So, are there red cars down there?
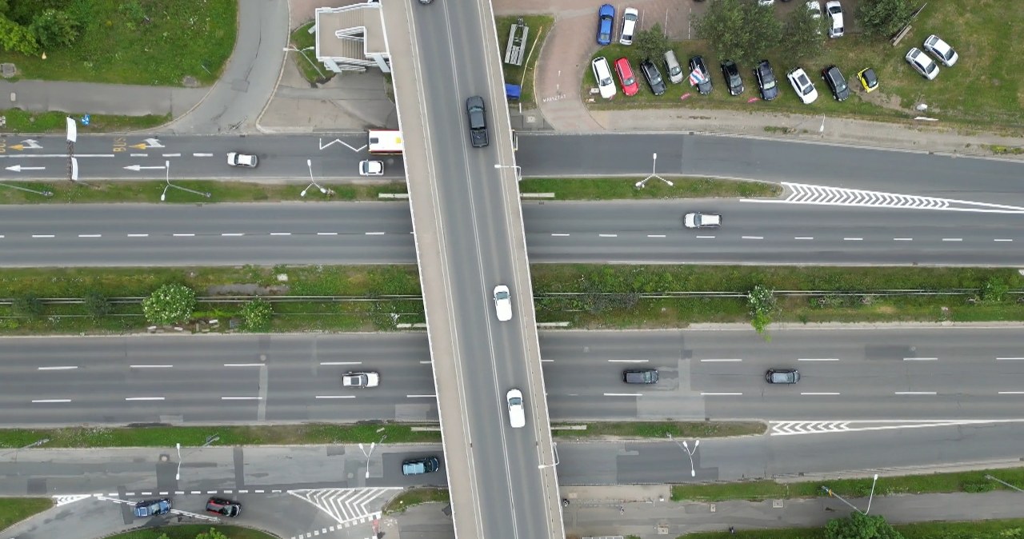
Yes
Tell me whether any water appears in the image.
No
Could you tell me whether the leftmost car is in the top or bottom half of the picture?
bottom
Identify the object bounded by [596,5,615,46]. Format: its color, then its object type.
blue car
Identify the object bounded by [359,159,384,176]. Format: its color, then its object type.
white car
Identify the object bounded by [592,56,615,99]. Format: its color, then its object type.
white car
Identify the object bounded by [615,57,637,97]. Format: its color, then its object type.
red car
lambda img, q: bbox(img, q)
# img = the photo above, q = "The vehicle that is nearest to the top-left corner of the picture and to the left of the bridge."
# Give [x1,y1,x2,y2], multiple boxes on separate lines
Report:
[227,152,259,168]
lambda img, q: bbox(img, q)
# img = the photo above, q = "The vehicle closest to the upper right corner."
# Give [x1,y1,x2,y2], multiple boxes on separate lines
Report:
[923,34,956,66]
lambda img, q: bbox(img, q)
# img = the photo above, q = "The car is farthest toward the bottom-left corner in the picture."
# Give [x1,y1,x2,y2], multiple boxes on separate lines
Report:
[133,497,173,518]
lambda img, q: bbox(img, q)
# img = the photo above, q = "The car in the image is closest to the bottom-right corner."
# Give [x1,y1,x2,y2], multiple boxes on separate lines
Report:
[765,368,799,385]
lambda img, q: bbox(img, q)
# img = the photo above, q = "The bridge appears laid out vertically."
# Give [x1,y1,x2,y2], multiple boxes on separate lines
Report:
[378,0,585,539]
